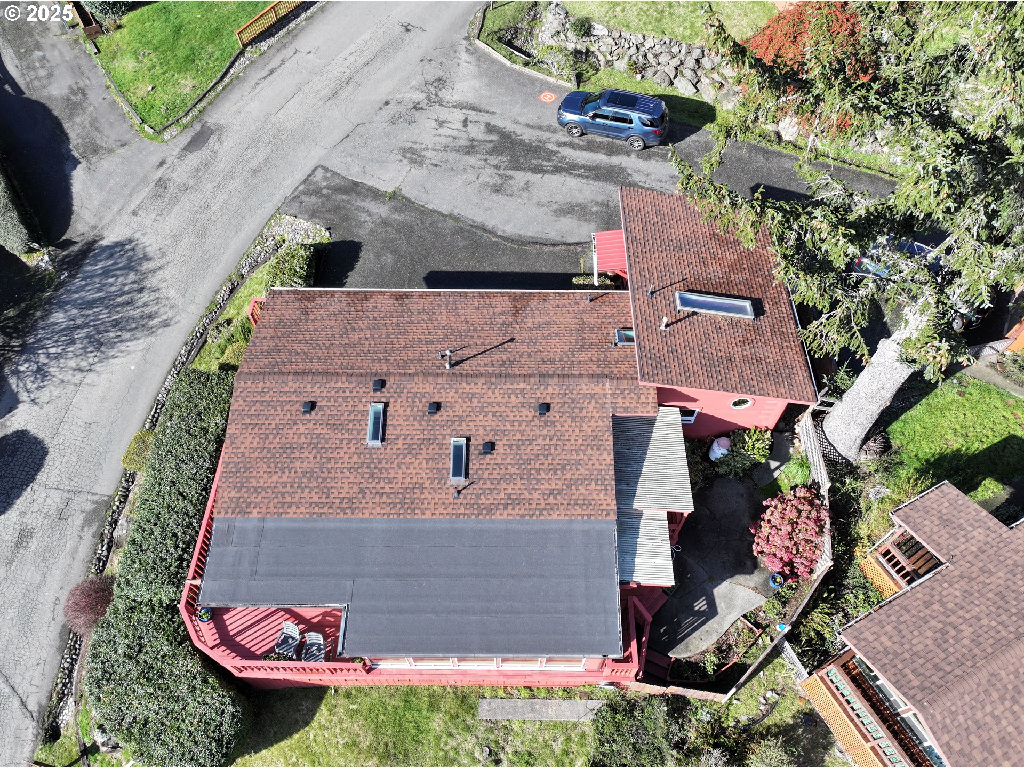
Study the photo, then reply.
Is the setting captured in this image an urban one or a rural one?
urban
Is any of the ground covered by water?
No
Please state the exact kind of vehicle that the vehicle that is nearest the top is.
car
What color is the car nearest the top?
blue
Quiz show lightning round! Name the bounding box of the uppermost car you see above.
[554,83,671,149]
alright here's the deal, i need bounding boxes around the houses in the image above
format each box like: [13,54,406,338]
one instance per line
[819,481,1024,768]
[197,186,821,675]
